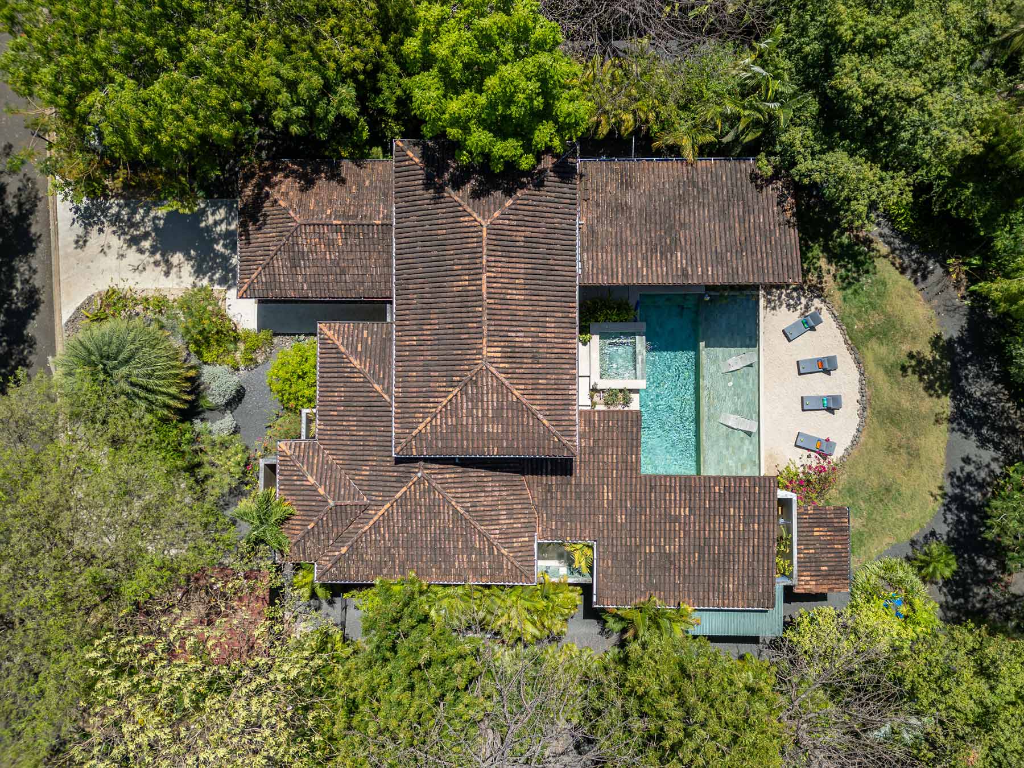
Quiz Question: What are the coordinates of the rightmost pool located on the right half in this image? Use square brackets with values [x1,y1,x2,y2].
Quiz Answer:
[634,291,765,476]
